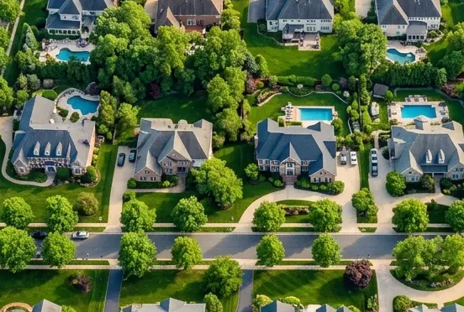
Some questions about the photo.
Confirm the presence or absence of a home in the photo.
Yes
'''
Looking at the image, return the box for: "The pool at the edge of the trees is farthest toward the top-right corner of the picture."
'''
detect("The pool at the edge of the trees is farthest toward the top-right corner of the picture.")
[386,47,415,63]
